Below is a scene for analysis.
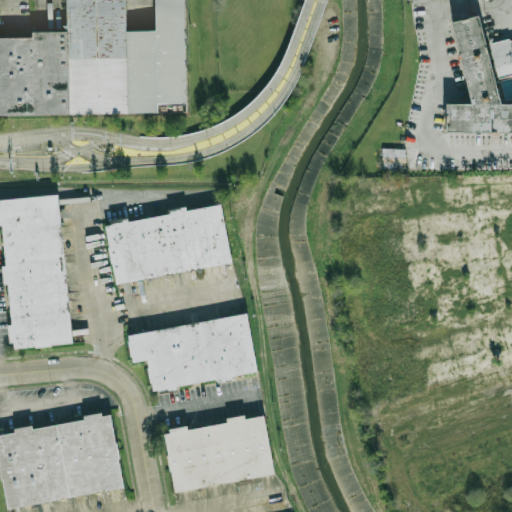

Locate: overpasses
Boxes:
[138,0,328,167]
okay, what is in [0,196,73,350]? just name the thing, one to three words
building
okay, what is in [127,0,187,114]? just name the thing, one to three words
building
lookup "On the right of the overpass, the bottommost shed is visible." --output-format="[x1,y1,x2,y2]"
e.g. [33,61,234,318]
[382,148,407,168]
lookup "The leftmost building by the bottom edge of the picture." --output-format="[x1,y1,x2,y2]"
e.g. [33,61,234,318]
[0,414,124,510]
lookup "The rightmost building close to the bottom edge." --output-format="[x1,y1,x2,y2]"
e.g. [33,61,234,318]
[165,416,274,494]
